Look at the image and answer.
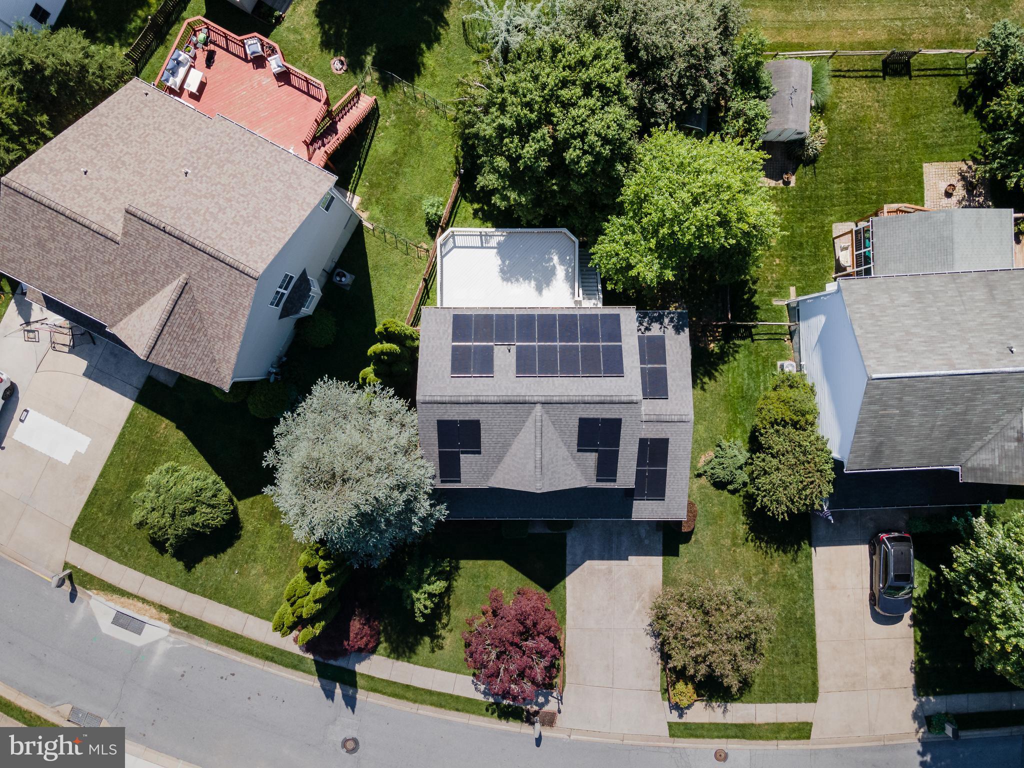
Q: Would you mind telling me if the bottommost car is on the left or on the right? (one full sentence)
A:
You can find the bottommost car on the right side of the picture.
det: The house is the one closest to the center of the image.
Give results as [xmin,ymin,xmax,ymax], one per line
[416,305,695,522]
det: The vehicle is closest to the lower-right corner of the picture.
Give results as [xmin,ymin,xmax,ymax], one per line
[872,529,919,616]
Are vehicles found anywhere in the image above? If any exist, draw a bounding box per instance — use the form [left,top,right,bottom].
[872,529,919,616]
[0,371,14,411]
